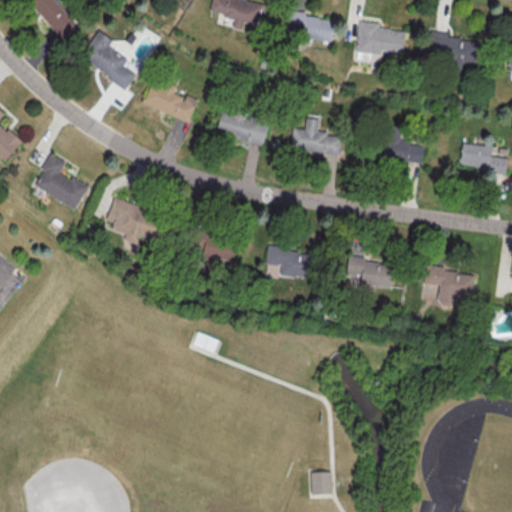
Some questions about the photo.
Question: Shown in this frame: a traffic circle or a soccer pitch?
soccer pitch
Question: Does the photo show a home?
Yes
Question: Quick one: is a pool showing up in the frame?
Yes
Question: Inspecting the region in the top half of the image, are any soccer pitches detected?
No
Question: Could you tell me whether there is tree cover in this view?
Yes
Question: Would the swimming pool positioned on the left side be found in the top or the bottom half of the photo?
top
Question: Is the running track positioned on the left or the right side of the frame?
right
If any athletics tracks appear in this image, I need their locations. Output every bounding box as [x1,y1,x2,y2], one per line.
[422,400,512,512]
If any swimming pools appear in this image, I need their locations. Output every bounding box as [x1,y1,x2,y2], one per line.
[493,308,512,341]
[111,28,162,76]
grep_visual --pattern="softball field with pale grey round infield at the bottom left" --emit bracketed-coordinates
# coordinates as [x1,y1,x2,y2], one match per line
[25,458,130,512]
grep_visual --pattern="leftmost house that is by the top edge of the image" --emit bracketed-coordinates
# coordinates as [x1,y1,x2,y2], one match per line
[32,0,70,33]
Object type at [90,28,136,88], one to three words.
house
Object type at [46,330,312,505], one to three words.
soccer field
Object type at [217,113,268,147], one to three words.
house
